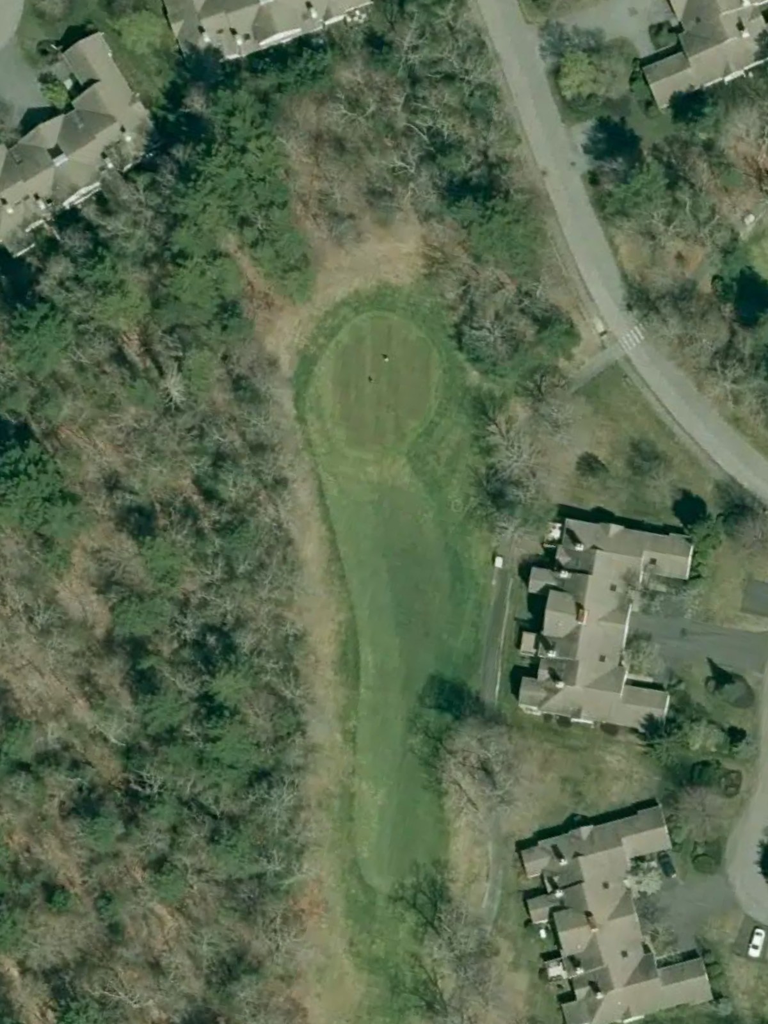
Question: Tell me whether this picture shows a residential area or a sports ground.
residential area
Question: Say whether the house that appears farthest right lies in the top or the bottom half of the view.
top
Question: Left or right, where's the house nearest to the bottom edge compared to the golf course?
on its right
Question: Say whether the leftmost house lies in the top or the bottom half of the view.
top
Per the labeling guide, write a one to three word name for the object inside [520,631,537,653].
shed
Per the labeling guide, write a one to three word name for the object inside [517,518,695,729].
house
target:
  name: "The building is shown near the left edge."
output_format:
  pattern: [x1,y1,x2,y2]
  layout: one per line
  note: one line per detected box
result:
[0,33,156,259]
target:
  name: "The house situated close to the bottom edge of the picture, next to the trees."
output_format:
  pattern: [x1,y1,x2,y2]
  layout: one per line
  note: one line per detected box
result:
[518,803,713,1024]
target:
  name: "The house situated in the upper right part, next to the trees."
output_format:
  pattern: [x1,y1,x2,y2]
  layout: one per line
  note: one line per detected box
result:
[642,0,768,108]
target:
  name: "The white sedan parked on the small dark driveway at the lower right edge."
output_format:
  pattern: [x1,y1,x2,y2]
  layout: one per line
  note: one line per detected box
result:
[748,927,765,958]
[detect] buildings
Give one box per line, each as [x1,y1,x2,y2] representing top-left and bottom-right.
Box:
[642,0,768,108]
[517,518,695,729]
[520,631,537,653]
[518,803,713,1024]
[0,33,156,259]
[159,0,423,64]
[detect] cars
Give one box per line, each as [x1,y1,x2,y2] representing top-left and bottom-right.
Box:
[748,927,765,958]
[657,849,677,880]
